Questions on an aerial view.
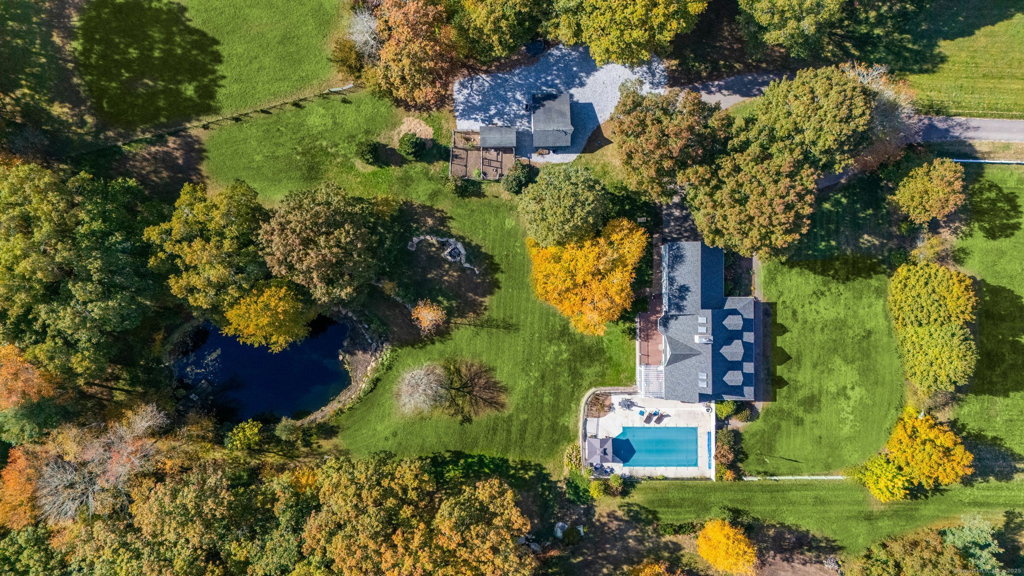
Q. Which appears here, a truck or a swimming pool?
swimming pool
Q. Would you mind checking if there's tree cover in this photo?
Yes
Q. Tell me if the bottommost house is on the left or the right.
right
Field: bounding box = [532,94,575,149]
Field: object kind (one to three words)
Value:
barn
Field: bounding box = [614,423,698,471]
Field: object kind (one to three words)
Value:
swimming pool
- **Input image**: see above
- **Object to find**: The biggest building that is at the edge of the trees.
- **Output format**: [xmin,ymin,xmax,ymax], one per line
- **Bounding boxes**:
[656,241,755,404]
